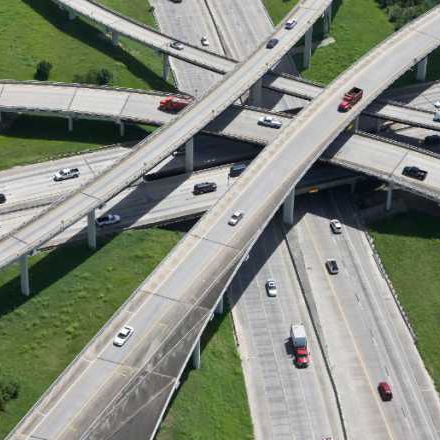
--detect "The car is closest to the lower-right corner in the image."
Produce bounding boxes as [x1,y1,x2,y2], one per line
[378,381,392,402]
